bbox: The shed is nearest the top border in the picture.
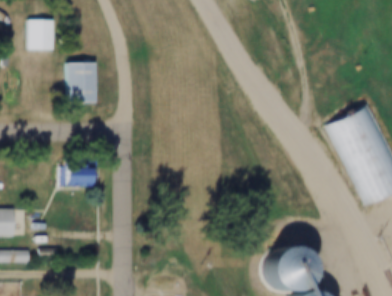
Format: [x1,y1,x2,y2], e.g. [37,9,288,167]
[23,18,55,51]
